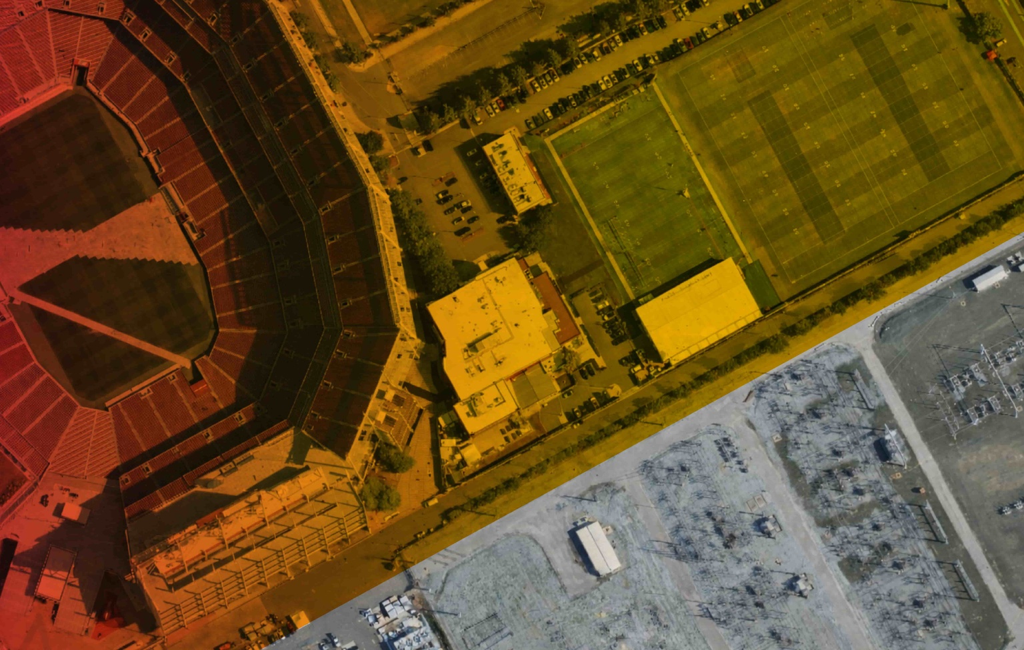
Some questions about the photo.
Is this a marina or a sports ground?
sports ground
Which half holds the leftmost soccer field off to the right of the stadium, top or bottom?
top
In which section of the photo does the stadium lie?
left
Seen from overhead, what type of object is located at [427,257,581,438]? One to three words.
building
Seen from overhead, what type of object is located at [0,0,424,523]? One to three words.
stadium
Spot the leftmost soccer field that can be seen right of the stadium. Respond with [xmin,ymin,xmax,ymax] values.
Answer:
[528,75,781,311]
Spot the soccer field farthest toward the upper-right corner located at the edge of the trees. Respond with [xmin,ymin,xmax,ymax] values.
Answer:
[659,0,1024,300]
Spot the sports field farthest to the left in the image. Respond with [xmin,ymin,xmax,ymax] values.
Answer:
[0,85,217,408]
